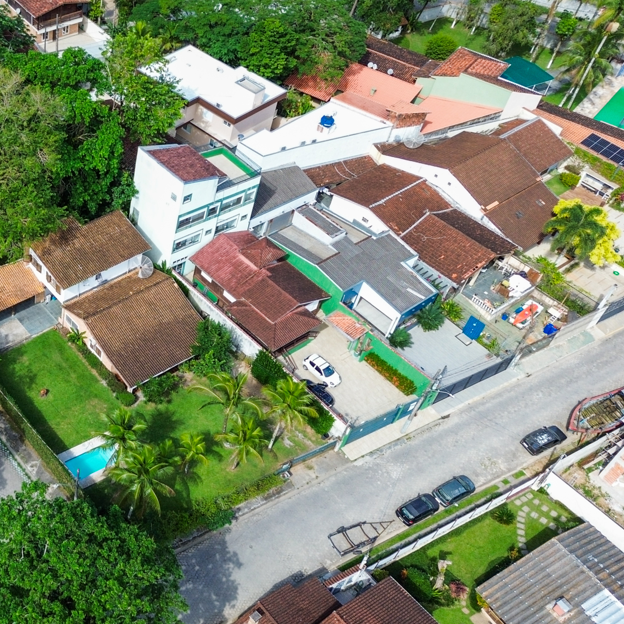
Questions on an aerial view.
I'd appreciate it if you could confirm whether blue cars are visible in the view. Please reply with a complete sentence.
Yes, the frame does contain a blue car.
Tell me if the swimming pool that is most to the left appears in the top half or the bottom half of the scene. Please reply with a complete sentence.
Seen from above, the swimming pool that is most to the left lies in the bottom half of the view.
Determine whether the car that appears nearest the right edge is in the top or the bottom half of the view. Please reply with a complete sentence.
You can find the car that appears nearest the right edge in the bottom half.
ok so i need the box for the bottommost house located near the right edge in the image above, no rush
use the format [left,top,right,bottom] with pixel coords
[469,522,624,624]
